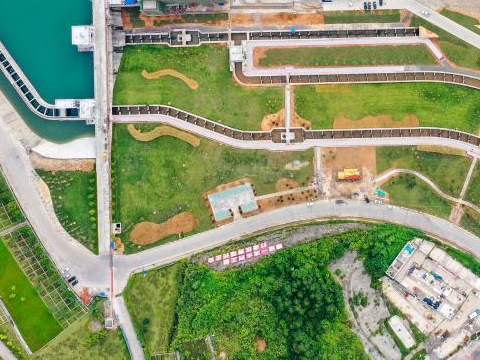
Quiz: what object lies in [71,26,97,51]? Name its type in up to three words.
building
